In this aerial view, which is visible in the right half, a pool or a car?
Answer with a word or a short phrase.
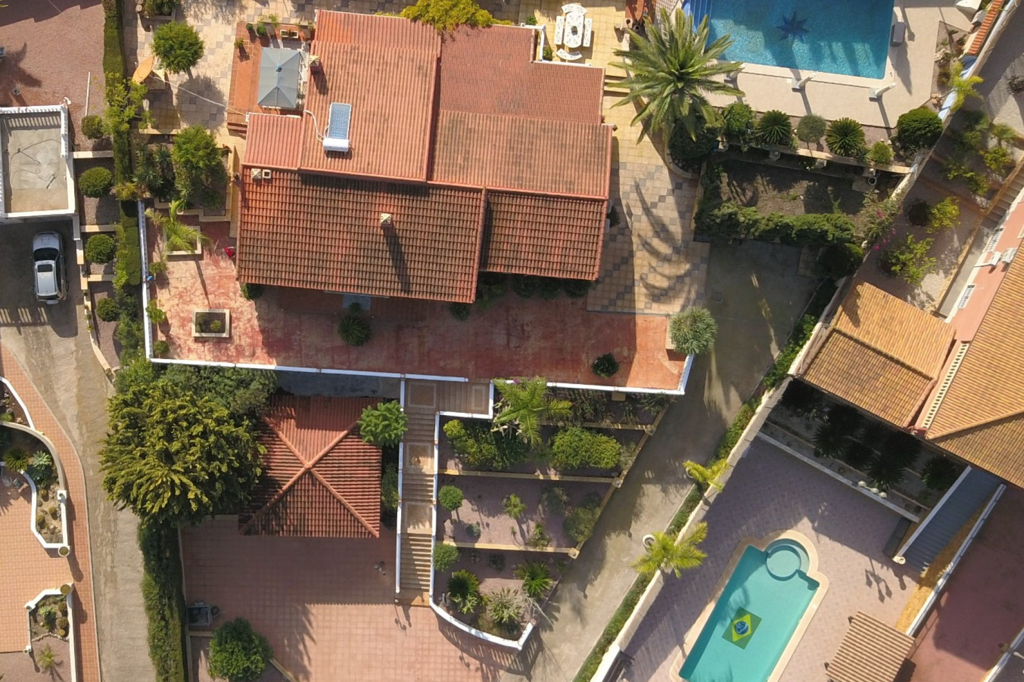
pool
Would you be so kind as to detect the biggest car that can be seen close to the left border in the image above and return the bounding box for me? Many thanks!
[31,235,70,306]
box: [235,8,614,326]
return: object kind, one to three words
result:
house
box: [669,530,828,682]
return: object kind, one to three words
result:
swimming pool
